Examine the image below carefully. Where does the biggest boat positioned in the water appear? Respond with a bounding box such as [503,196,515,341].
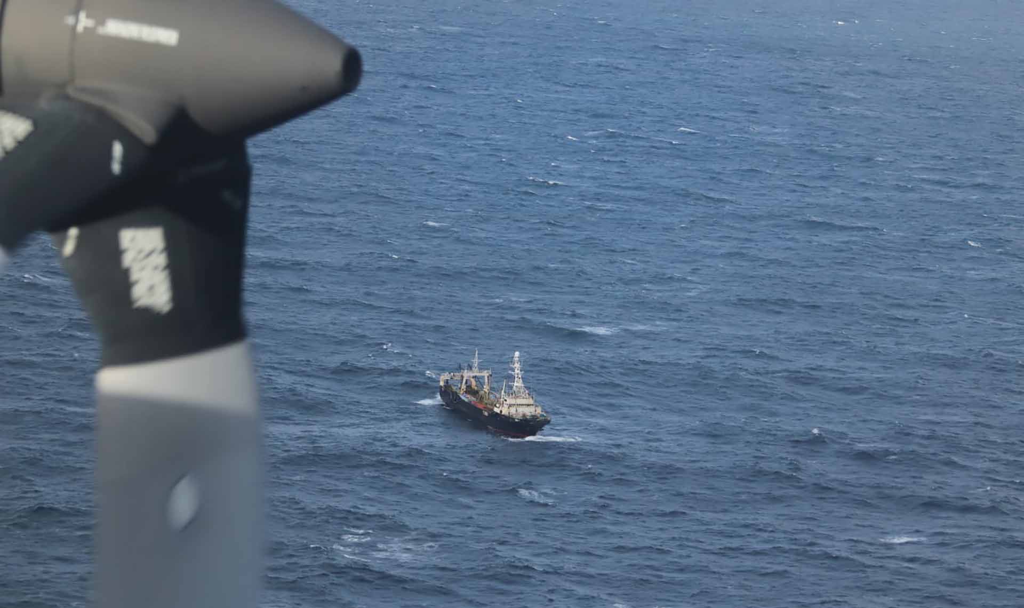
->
[438,351,554,438]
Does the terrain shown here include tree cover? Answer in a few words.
No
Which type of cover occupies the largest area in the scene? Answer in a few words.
water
